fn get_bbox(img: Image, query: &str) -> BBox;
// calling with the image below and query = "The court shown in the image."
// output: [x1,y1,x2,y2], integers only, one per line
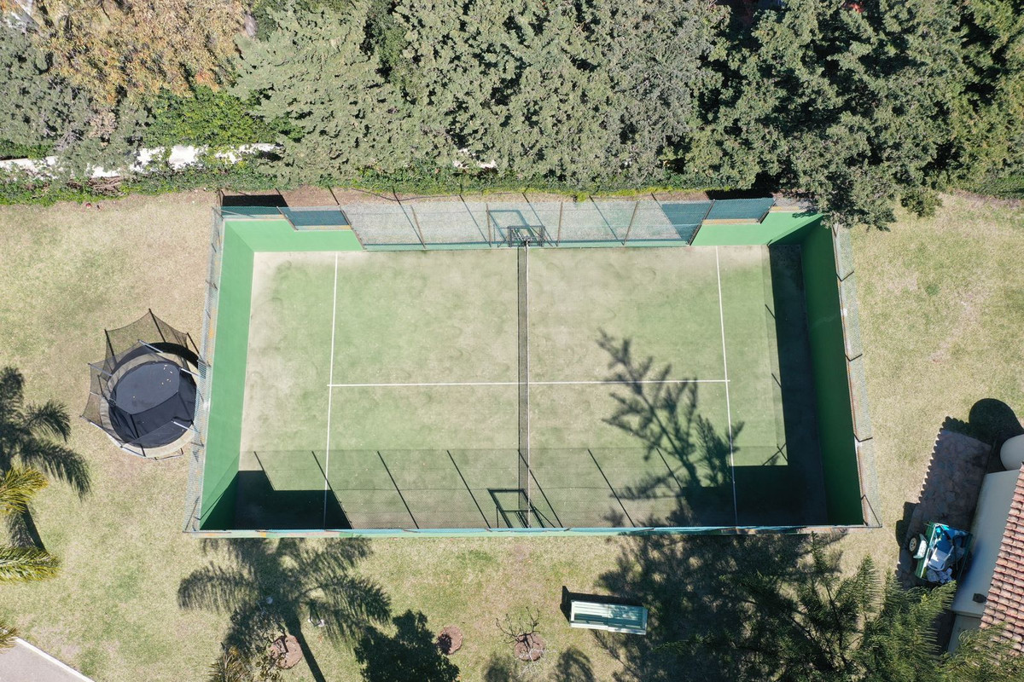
[235,244,828,529]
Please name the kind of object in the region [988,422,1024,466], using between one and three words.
water tank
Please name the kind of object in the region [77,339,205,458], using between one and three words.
trampoline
